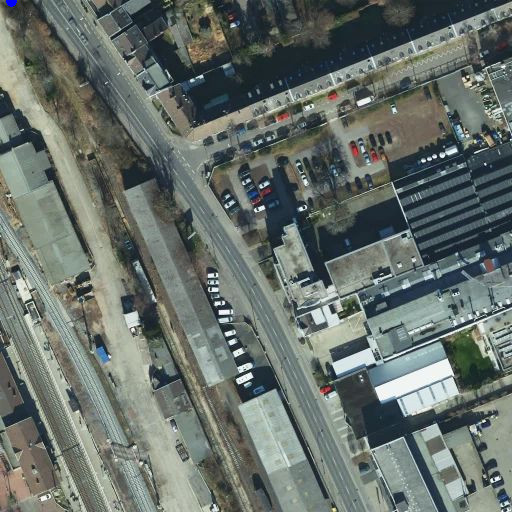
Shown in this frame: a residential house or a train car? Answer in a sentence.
Looking from above, you can make out a residential house.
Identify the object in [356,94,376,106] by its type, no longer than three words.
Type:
vehicle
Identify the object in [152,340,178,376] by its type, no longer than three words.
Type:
shed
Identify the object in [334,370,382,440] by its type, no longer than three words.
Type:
building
